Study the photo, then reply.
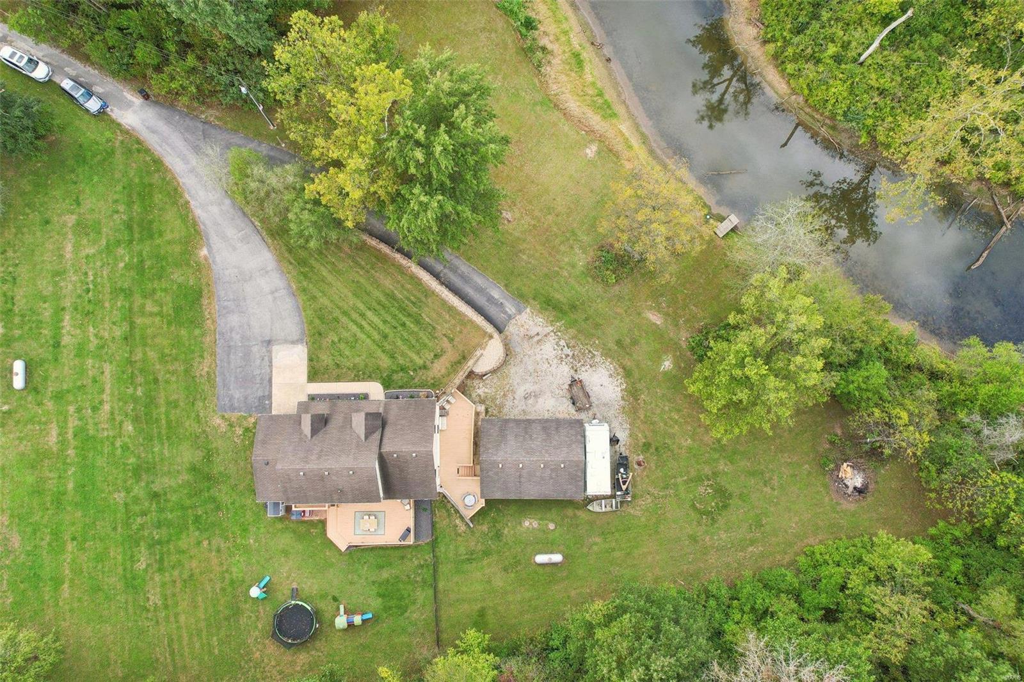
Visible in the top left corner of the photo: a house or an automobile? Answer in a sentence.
There is an automobile in the top left corner of the photo.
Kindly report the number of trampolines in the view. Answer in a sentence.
Just 1 trampoline appears in this view.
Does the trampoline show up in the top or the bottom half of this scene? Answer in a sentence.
Seen from above, the trampoline lies in the bottom half of the view.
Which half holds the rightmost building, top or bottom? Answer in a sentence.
You can find the rightmost building in the bottom half.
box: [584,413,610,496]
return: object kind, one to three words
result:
trailer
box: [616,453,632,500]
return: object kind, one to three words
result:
boat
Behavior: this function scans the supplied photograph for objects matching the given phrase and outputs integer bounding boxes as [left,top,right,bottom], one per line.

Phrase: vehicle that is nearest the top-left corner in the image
[0,45,57,88]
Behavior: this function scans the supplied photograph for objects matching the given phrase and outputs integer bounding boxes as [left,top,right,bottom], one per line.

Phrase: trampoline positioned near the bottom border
[266,584,320,652]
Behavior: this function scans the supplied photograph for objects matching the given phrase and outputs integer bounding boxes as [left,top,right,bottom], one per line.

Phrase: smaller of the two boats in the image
[587,499,621,513]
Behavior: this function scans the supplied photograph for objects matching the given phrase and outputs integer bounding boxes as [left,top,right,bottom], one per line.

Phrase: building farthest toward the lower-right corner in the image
[479,418,586,500]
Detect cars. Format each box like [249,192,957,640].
[0,45,57,88]
[54,73,113,117]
